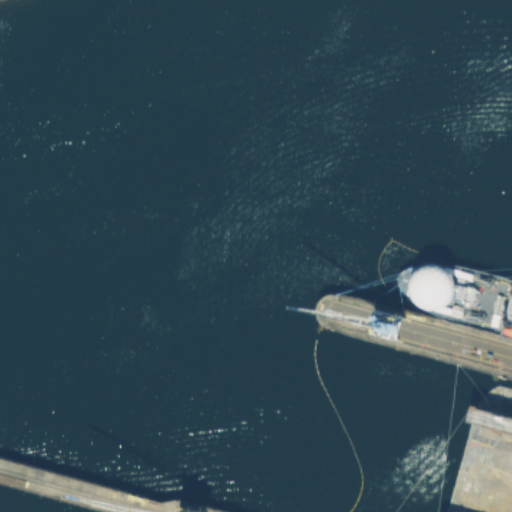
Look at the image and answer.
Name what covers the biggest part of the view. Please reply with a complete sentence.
The bulk of the photo consists of water.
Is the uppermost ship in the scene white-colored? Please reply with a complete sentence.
Yes, the uppermost ship is indeed white.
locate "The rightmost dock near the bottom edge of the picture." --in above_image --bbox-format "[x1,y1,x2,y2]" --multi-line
[454,408,512,512]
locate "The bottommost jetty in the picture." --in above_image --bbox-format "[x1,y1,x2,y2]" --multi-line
[0,460,207,512]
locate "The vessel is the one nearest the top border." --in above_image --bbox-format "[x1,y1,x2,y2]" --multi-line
[398,263,512,338]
